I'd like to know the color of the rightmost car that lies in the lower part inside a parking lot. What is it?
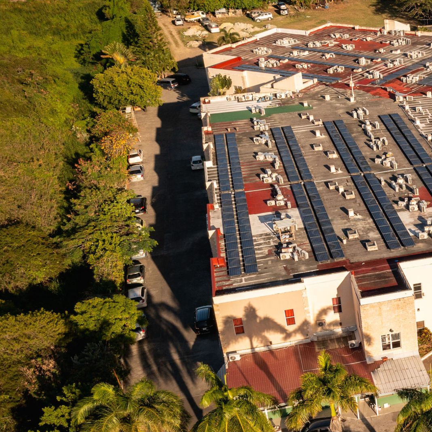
black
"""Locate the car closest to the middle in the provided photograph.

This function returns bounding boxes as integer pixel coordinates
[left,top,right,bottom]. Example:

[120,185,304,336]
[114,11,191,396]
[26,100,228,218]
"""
[188,153,205,171]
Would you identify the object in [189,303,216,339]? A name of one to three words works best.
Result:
car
